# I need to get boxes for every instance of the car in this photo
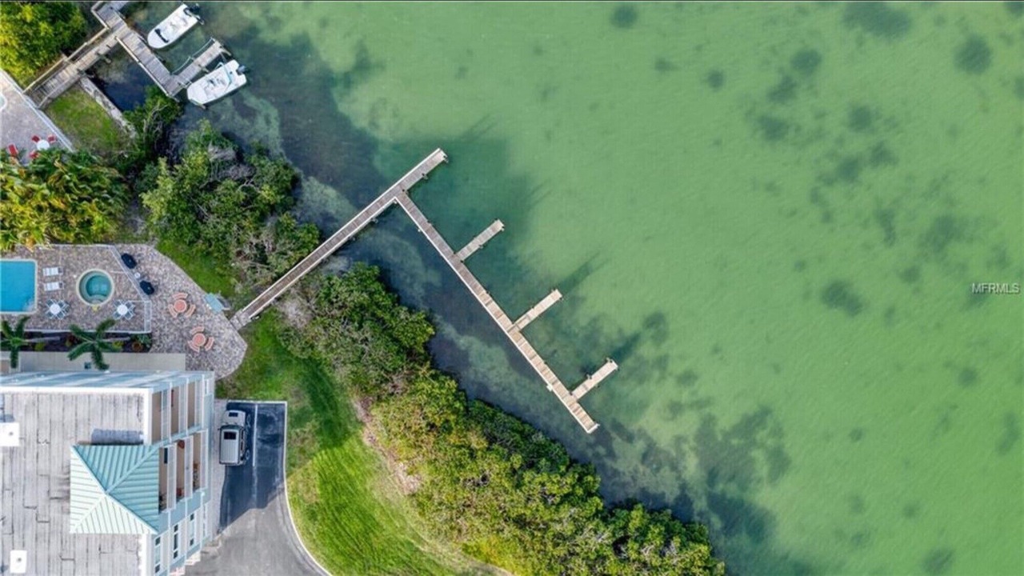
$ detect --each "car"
[220,413,248,469]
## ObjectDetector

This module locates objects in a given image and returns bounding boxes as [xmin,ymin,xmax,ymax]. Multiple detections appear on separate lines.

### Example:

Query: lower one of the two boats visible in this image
[186,59,249,105]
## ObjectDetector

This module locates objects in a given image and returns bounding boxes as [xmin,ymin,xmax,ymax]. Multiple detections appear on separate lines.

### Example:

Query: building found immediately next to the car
[0,371,219,576]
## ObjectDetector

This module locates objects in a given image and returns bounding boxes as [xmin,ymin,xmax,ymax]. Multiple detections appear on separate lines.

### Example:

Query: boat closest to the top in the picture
[145,1,200,45]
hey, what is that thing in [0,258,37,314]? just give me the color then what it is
blue swimming pool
